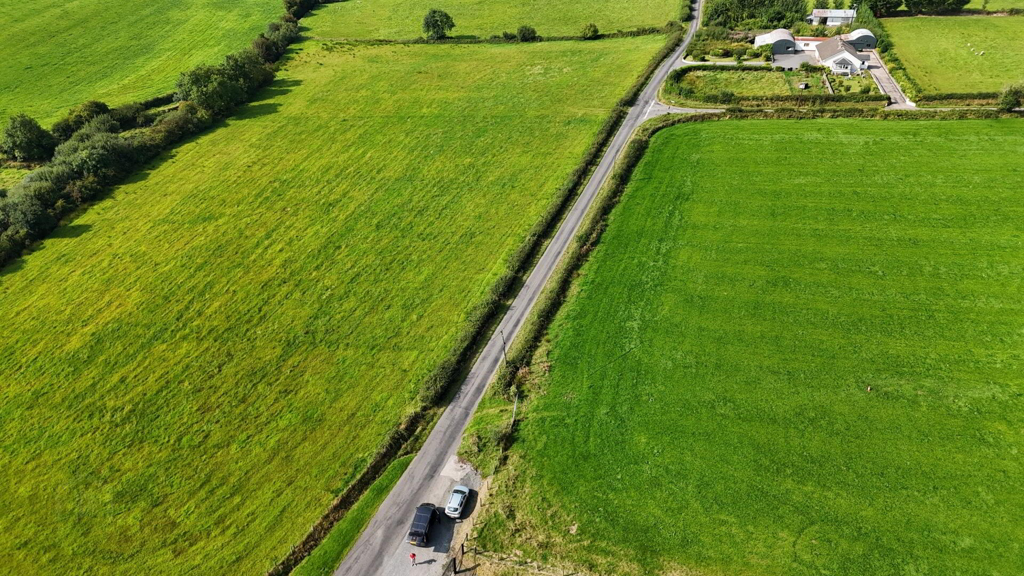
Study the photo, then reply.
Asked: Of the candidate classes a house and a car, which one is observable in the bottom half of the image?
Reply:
car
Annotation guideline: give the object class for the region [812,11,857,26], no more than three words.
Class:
shed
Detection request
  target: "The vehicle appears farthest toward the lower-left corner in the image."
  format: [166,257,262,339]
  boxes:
[404,503,438,545]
